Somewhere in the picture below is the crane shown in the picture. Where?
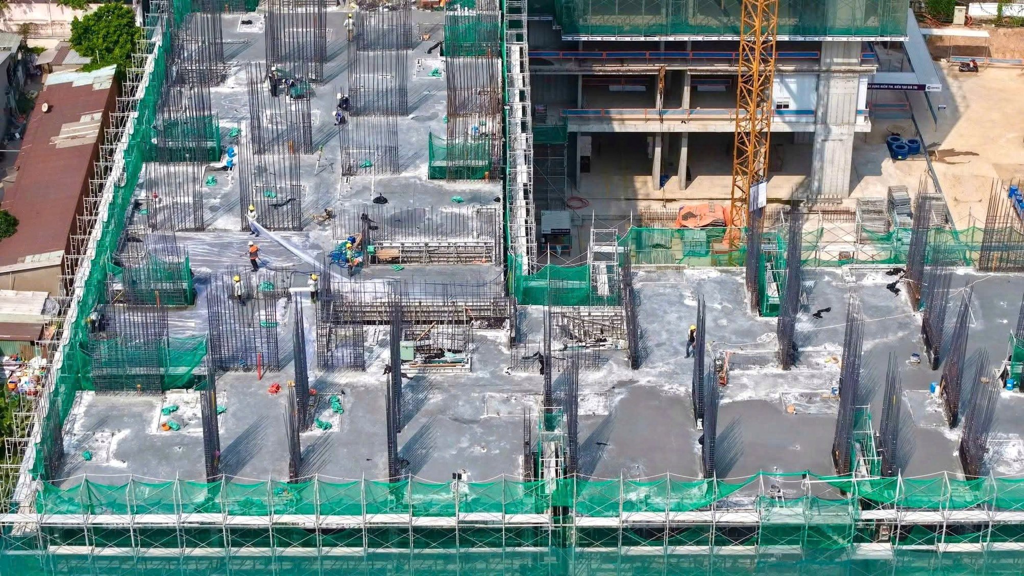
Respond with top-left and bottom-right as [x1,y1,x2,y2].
[723,0,780,232]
